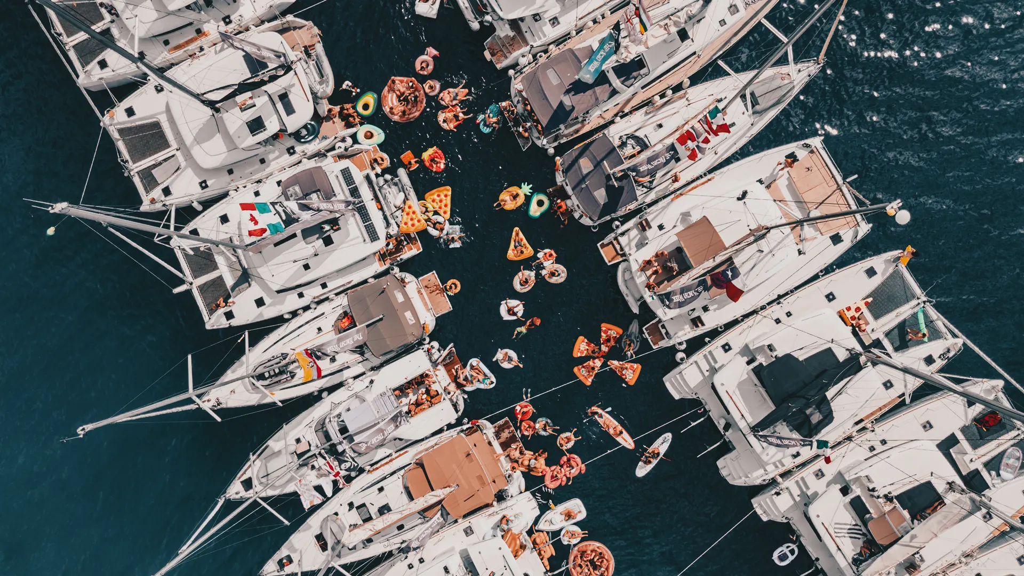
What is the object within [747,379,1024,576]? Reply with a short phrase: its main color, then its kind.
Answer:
white boat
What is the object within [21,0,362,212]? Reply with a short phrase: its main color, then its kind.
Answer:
white boat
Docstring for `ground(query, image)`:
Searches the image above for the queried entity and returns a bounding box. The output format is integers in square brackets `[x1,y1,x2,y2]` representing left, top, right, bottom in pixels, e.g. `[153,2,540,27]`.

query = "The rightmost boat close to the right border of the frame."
[1002,444,1023,481]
